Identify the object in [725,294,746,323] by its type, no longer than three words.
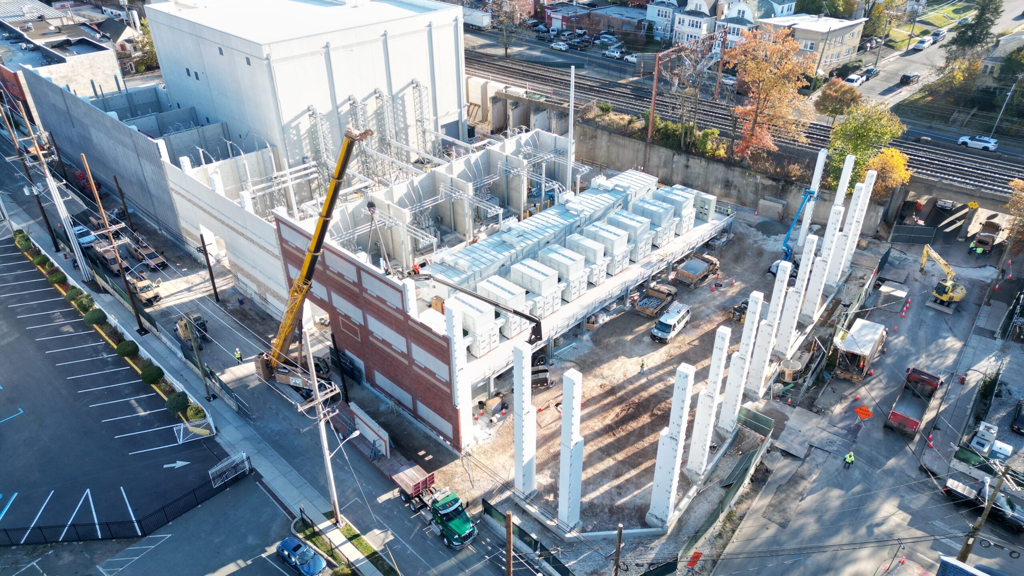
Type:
work vehicle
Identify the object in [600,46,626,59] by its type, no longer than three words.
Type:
vehicle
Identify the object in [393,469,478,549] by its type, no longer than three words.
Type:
truck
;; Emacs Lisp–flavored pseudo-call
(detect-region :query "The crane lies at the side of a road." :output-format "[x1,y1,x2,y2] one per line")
[249,112,377,422]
